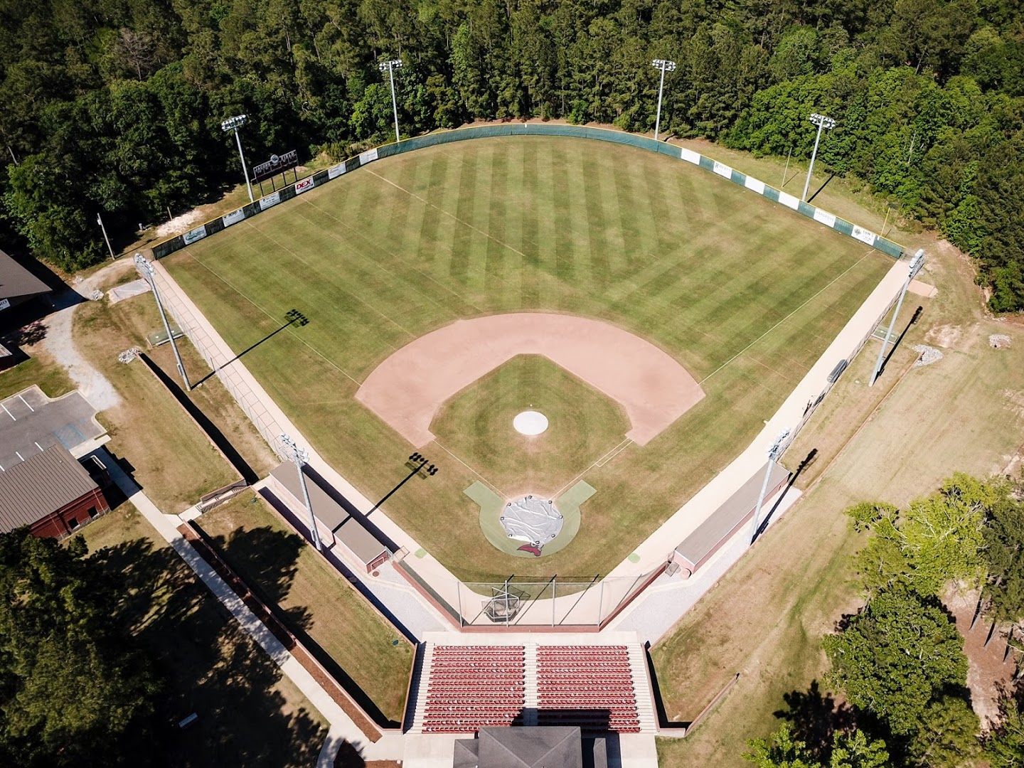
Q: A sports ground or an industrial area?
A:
sports ground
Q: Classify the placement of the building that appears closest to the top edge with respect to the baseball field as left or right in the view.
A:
to its left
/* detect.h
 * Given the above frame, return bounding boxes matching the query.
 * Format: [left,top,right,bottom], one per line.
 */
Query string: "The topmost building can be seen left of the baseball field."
[0,250,52,330]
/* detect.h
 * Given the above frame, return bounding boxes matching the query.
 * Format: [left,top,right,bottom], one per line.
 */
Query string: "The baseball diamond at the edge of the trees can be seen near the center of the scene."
[136,135,919,624]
